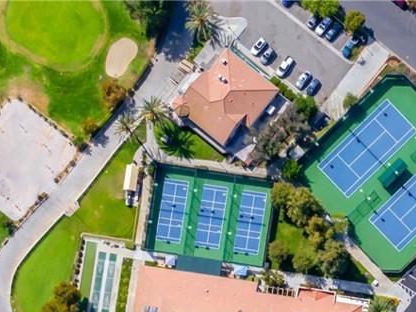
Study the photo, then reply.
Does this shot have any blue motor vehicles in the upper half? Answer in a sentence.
Yes, you'll find a blue motor vehicle in the upper half.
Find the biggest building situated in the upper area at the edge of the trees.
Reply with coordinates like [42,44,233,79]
[173,48,279,147]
